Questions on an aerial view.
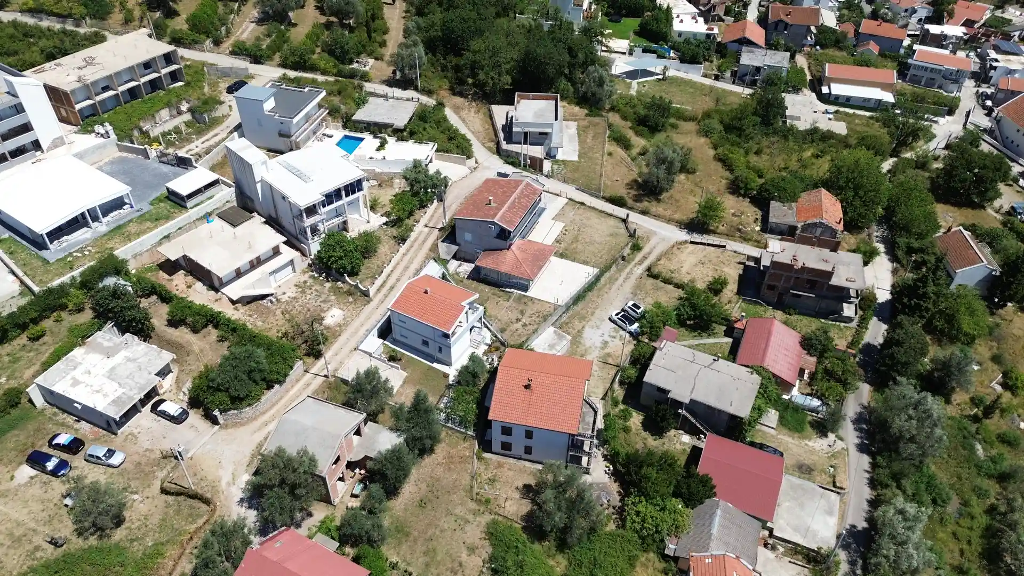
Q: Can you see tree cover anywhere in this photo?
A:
Yes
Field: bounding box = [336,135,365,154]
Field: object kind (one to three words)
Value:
swimming pool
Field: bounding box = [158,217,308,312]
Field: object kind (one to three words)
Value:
house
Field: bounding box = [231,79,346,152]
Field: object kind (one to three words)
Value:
building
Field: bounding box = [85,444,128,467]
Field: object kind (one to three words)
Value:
car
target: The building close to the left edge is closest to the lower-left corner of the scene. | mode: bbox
[24,331,181,440]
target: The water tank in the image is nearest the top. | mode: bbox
[525,327,571,357]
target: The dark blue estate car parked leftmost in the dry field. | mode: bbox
[27,450,70,476]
